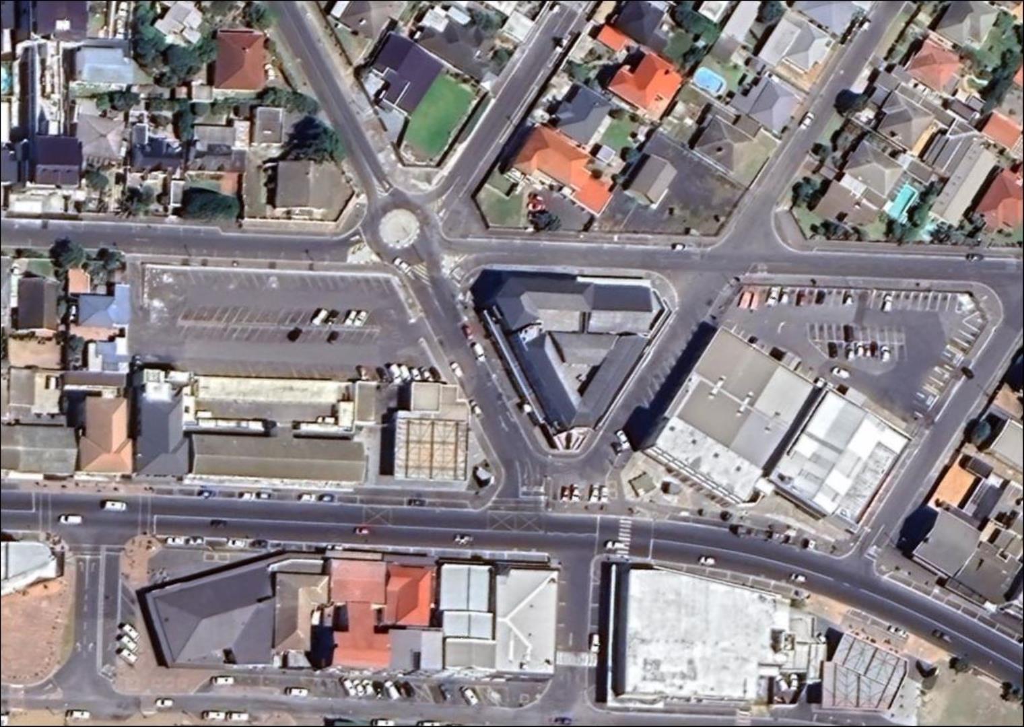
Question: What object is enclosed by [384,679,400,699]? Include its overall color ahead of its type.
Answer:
white vehicle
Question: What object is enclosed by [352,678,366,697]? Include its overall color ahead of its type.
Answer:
white car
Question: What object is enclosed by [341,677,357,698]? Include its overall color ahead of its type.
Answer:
white vehicle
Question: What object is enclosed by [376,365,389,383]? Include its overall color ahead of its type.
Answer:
black vehicle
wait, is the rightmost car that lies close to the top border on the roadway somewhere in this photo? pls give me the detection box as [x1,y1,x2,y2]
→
[859,17,873,34]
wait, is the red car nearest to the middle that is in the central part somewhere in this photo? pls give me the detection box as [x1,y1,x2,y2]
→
[463,322,475,338]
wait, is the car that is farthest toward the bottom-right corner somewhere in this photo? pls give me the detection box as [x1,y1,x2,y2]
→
[933,628,952,642]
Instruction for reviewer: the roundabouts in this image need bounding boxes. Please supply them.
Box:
[378,207,420,249]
